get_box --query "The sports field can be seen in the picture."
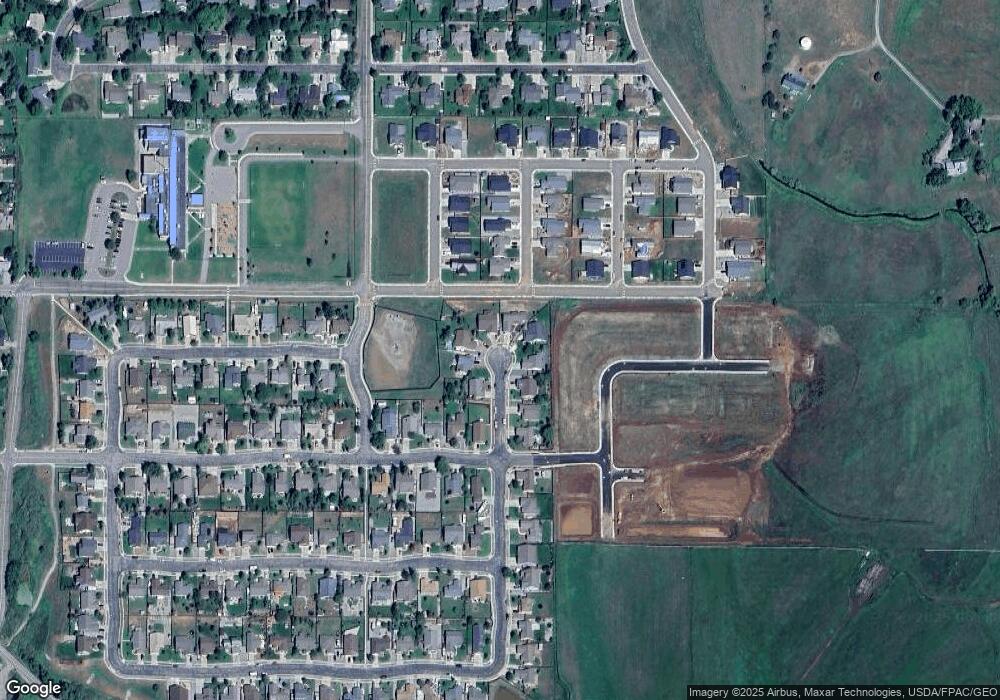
[249,162,306,248]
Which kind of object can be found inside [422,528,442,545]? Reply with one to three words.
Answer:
house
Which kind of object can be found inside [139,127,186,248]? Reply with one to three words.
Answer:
building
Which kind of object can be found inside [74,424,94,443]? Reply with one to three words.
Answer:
house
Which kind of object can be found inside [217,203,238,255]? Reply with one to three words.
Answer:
playground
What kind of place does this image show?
residential area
